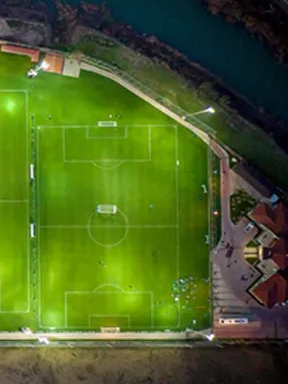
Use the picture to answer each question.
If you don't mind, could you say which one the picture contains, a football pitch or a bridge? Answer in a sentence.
The image shows a football pitch.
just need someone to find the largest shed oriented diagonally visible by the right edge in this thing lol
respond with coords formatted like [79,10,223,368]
[229,161,278,200]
